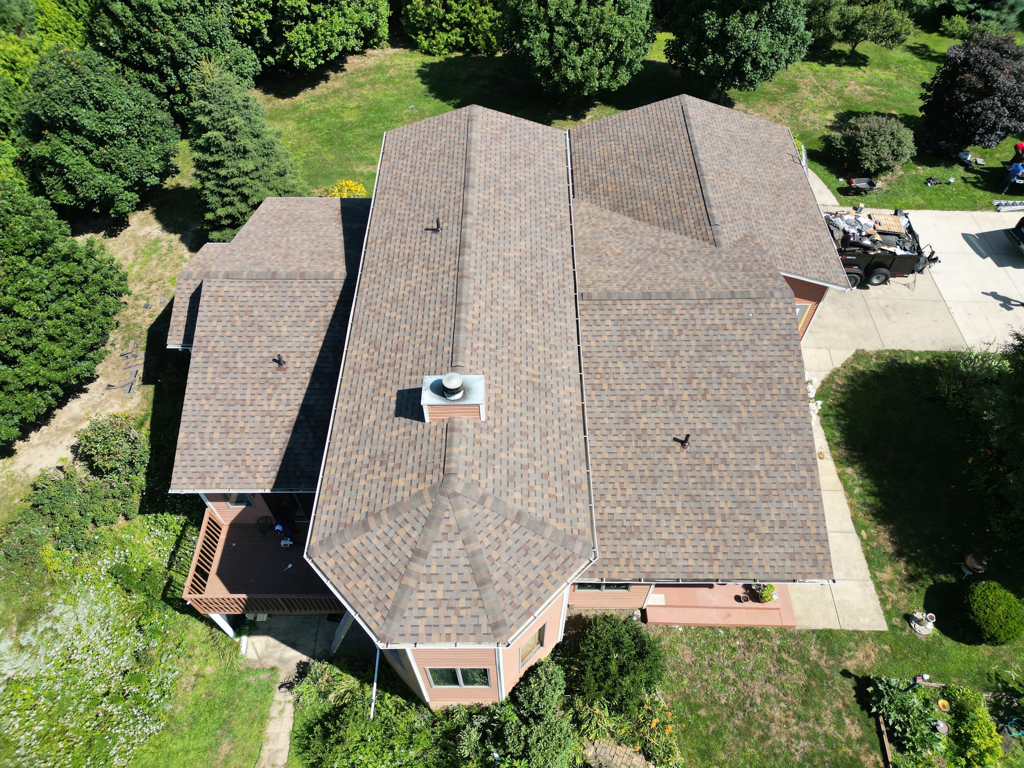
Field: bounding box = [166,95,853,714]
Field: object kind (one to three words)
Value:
house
